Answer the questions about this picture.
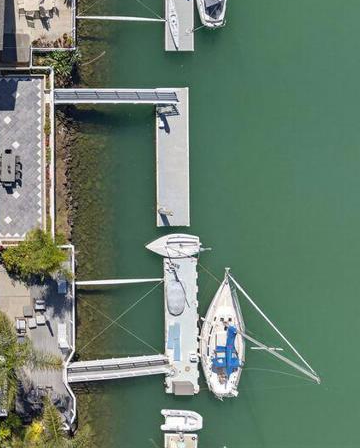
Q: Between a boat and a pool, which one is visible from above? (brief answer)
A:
boat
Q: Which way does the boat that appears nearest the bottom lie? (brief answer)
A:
from side to side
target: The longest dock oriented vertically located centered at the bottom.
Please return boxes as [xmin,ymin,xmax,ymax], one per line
[164,258,198,394]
